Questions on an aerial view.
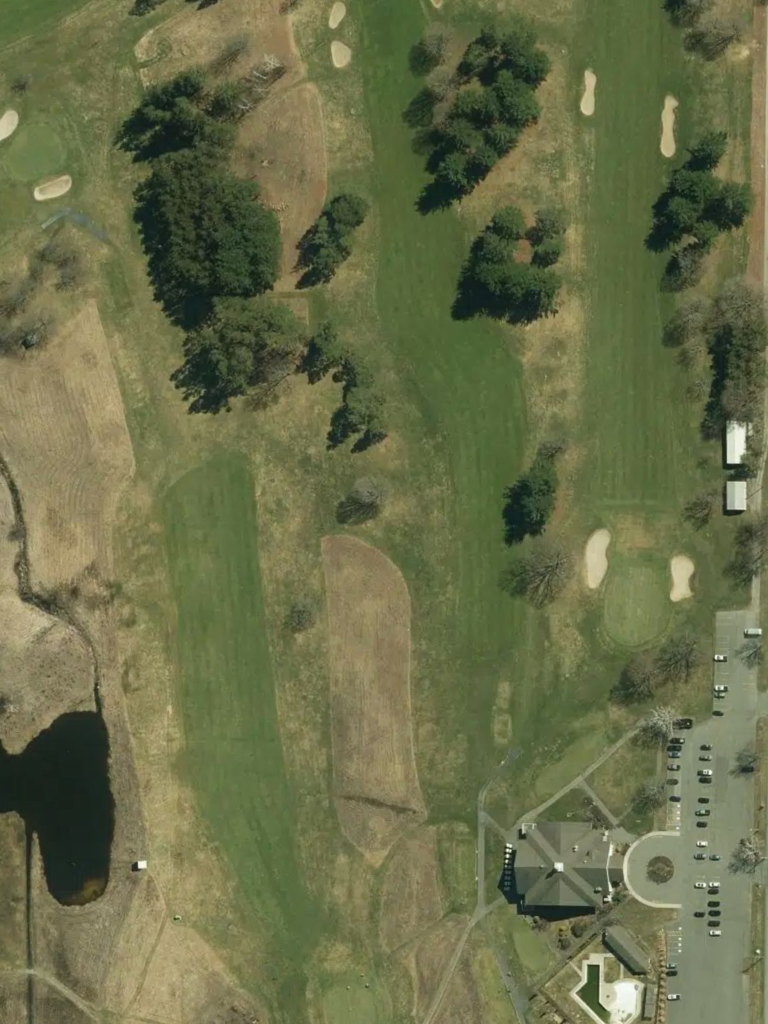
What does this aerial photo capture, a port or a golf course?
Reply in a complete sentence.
The picture captures a golf course.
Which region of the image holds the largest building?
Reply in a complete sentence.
The largest building is in the bottom right part of the image.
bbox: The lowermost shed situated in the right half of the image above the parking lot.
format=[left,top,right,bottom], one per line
[727,481,747,510]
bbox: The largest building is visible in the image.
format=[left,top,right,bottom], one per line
[516,823,623,907]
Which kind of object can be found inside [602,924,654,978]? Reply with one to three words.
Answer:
building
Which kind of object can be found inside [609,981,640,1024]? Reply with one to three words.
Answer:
swimming pool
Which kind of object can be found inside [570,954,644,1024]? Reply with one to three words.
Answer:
swimming pool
